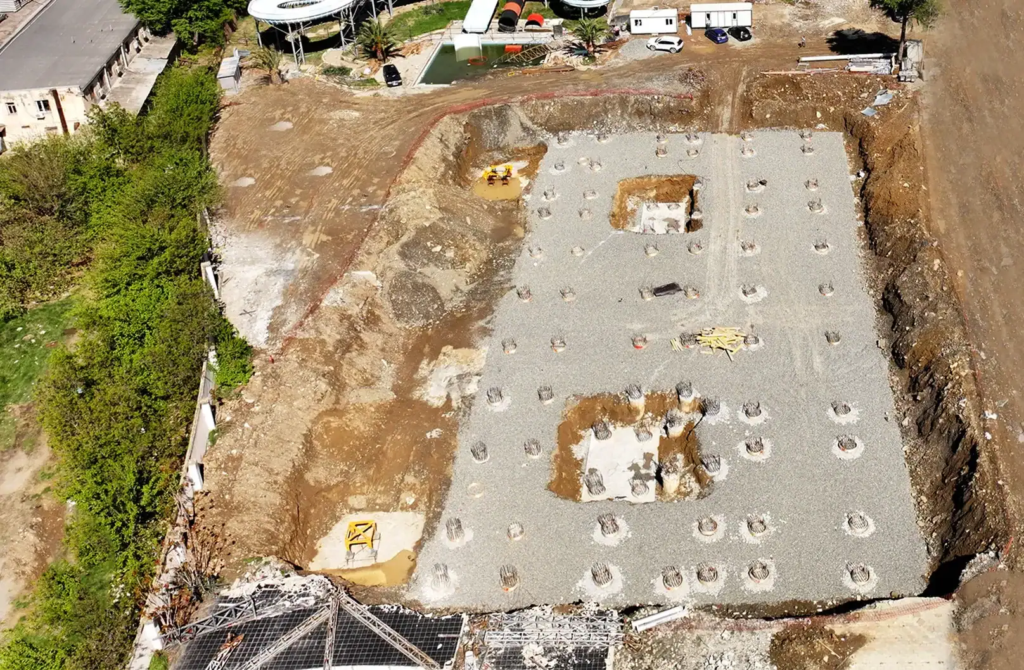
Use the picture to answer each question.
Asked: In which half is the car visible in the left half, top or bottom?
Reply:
top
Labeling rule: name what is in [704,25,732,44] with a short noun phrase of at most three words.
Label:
car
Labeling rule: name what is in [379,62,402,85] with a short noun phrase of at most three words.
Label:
car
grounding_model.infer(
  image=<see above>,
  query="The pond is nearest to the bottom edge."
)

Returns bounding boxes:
[329,550,416,587]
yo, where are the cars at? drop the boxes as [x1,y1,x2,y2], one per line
[379,62,402,85]
[704,25,732,44]
[645,32,685,52]
[725,22,755,41]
